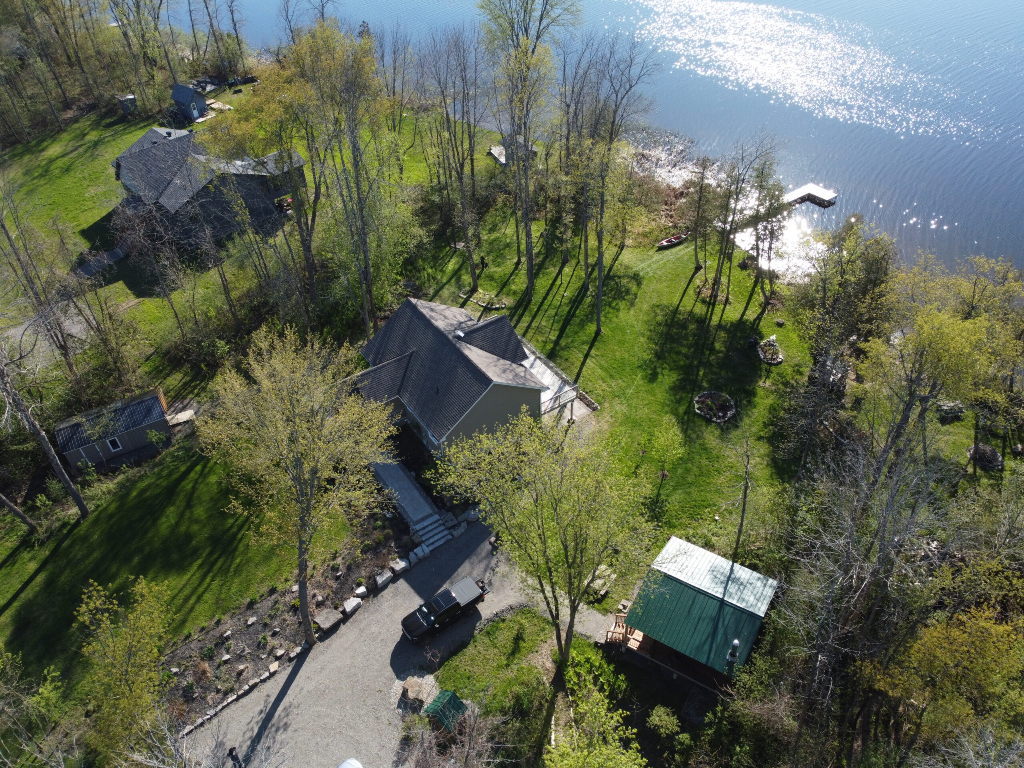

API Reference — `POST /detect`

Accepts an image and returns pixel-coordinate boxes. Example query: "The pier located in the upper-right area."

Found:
[763,178,840,216]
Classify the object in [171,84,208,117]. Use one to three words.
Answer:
shed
